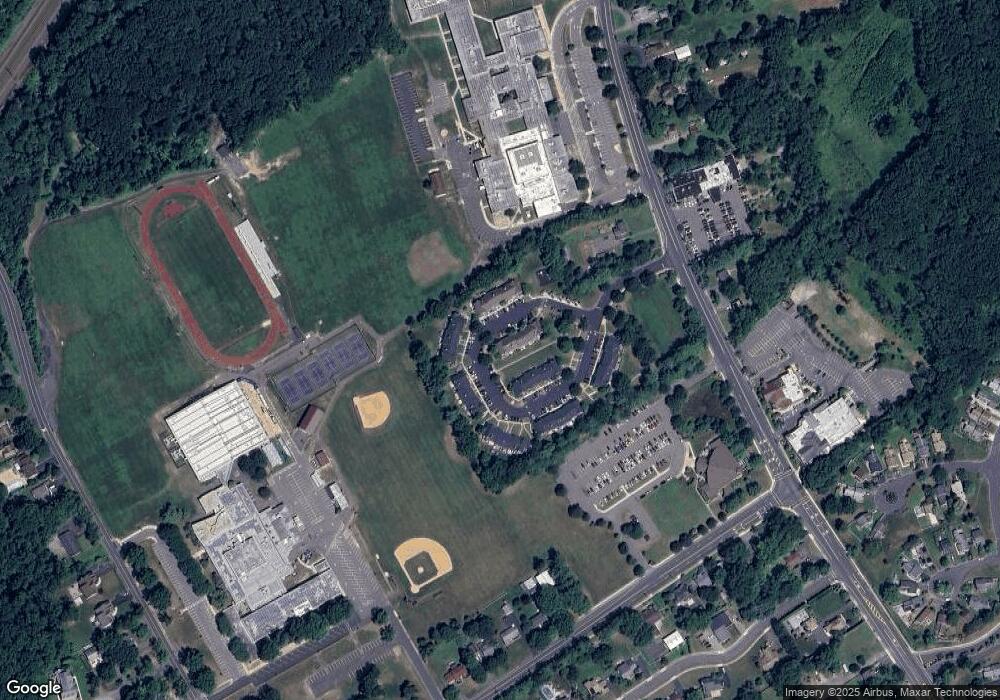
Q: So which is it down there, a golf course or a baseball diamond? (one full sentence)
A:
The one in the frame is a baseball diamond.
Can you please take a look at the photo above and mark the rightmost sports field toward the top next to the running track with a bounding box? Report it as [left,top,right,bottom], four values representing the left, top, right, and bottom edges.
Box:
[244,61,471,337]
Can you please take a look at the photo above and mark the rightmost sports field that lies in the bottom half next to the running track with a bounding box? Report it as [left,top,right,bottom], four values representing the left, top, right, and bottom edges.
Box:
[326,341,635,616]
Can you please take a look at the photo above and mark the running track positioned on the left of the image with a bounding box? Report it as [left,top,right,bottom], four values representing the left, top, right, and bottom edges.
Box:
[140,180,287,366]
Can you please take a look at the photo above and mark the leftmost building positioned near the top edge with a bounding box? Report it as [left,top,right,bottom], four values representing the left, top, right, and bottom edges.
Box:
[407,0,580,220]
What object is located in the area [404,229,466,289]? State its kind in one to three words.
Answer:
baseball field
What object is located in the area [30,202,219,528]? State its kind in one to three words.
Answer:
sports field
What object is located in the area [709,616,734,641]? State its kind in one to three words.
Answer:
house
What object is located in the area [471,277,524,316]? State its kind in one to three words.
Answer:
building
